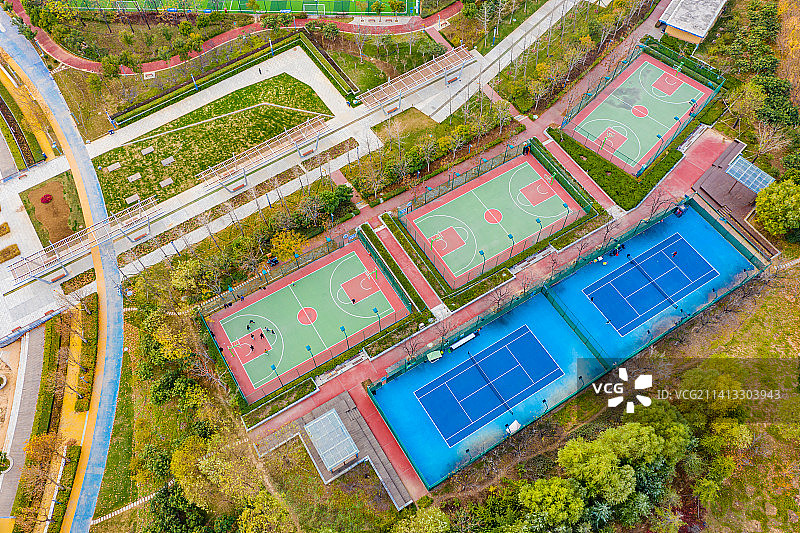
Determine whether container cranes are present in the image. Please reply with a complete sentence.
No, I find no container crane anywhere in the image.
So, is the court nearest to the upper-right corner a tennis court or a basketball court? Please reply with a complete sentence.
Specifically, the court nearest to the upper-right corner is a basketball court.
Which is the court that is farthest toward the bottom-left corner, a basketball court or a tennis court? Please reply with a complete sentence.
It looks like the court that is farthest toward the bottom-left corner is a basketball court.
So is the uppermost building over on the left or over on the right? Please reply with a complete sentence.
The uppermost building is on the right side of the image.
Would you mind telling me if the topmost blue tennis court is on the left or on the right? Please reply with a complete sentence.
You can find the topmost blue tennis court on the right side of the picture.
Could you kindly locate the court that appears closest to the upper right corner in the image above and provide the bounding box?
[561,52,716,177]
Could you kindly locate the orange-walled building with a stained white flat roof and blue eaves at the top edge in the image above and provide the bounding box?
[656,0,723,48]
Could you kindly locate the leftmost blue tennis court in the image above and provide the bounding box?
[374,292,607,486]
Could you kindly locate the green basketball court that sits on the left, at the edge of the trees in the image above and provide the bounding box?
[205,240,409,404]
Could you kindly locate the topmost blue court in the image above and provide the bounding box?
[545,205,758,370]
